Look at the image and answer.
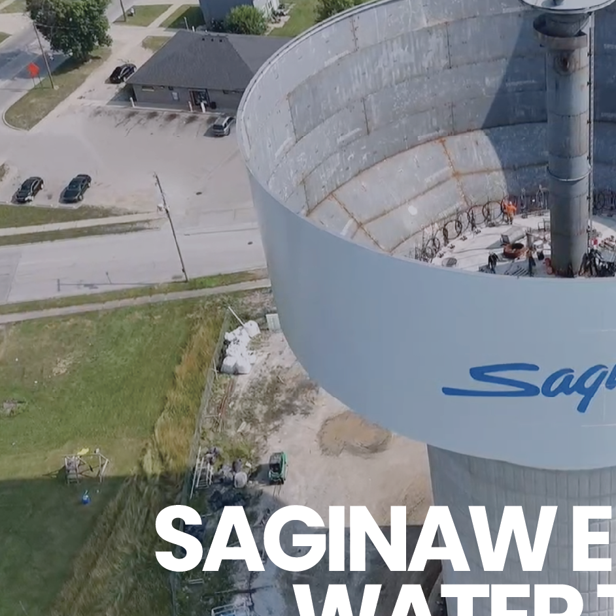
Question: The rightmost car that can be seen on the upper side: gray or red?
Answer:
gray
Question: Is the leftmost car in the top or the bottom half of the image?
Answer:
top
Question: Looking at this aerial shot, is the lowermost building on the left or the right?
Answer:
left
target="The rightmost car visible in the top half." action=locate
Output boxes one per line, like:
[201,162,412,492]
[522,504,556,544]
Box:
[208,115,237,136]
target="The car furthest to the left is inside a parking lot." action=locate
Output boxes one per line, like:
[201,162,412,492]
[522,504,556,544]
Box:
[11,172,46,202]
